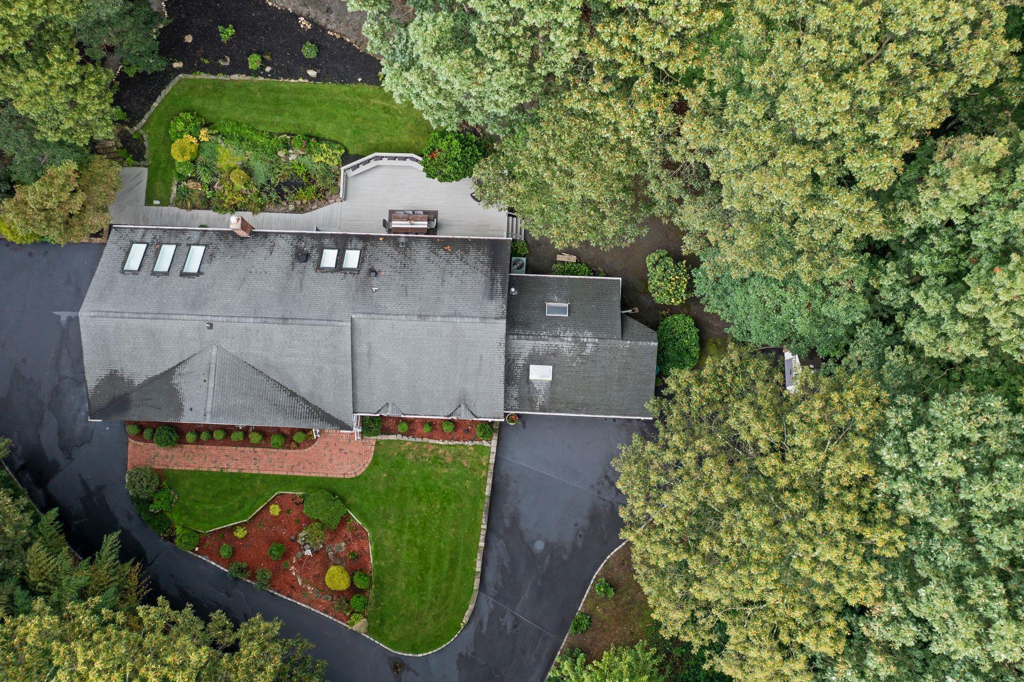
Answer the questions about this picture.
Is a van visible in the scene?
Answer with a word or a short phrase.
No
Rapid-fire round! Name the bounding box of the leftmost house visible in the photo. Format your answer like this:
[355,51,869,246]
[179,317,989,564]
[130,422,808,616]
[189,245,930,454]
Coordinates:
[79,215,658,432]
